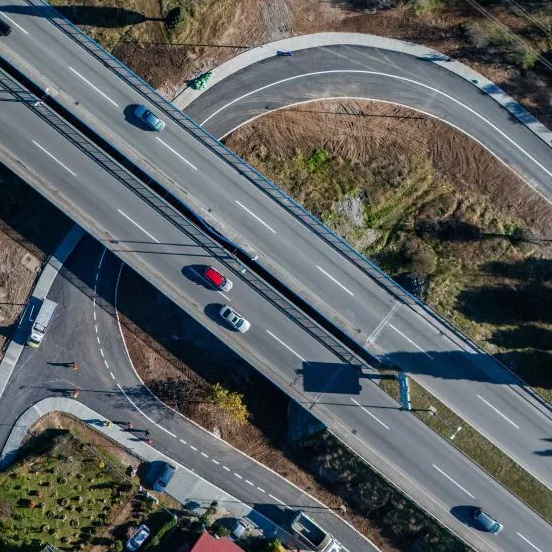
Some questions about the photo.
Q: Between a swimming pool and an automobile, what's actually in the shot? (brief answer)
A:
automobile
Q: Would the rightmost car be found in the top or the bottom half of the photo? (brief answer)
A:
bottom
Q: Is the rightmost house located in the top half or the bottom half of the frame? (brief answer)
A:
bottom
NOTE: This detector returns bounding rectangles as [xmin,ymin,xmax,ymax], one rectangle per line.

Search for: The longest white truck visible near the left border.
[25,296,60,351]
